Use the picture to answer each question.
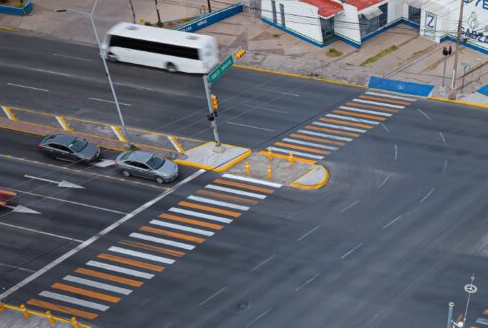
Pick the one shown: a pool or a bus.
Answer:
bus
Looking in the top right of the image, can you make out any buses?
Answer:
No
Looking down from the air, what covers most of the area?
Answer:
paved ground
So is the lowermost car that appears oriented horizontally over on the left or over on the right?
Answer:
left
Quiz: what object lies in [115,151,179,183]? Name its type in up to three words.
car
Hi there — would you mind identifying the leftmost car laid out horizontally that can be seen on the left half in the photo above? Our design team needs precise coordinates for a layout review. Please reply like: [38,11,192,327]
[43,133,105,163]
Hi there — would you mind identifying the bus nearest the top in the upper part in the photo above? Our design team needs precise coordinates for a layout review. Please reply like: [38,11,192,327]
[94,19,213,73]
